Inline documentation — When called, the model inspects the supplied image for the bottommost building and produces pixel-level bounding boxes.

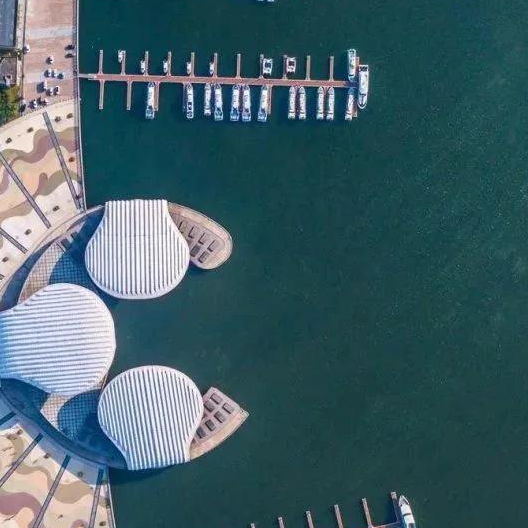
[98,365,203,469]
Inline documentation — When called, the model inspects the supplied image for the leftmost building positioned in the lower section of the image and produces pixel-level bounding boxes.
[0,282,116,395]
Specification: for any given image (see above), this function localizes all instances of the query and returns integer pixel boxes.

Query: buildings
[85,199,189,299]
[0,282,116,395]
[0,57,17,87]
[98,365,203,469]
[0,0,19,53]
